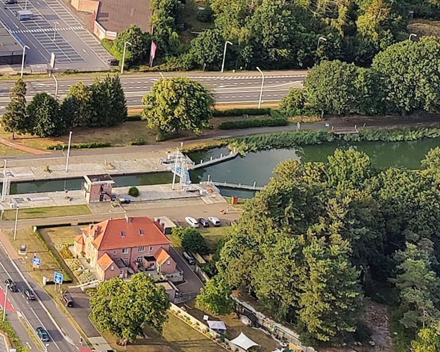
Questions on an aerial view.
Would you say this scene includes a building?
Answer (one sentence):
Yes, you can see a building in this photo.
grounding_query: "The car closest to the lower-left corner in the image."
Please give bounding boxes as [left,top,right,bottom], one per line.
[35,327,50,339]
